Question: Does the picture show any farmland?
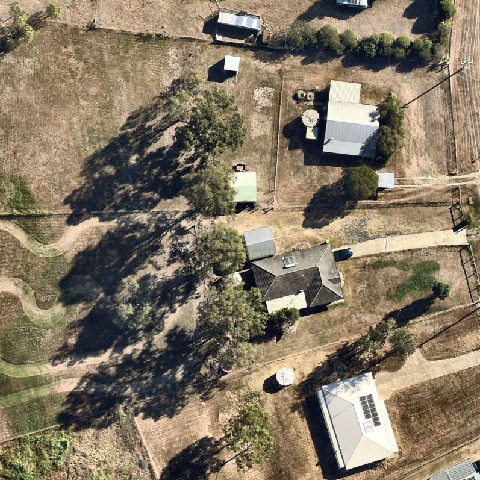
Yes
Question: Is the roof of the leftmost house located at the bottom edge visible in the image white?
Yes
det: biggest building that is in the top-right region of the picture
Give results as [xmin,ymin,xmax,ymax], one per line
[323,80,379,159]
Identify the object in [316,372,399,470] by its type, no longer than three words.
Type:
house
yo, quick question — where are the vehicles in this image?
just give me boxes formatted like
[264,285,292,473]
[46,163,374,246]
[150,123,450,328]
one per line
[337,0,368,9]
[333,250,354,261]
[473,460,480,470]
